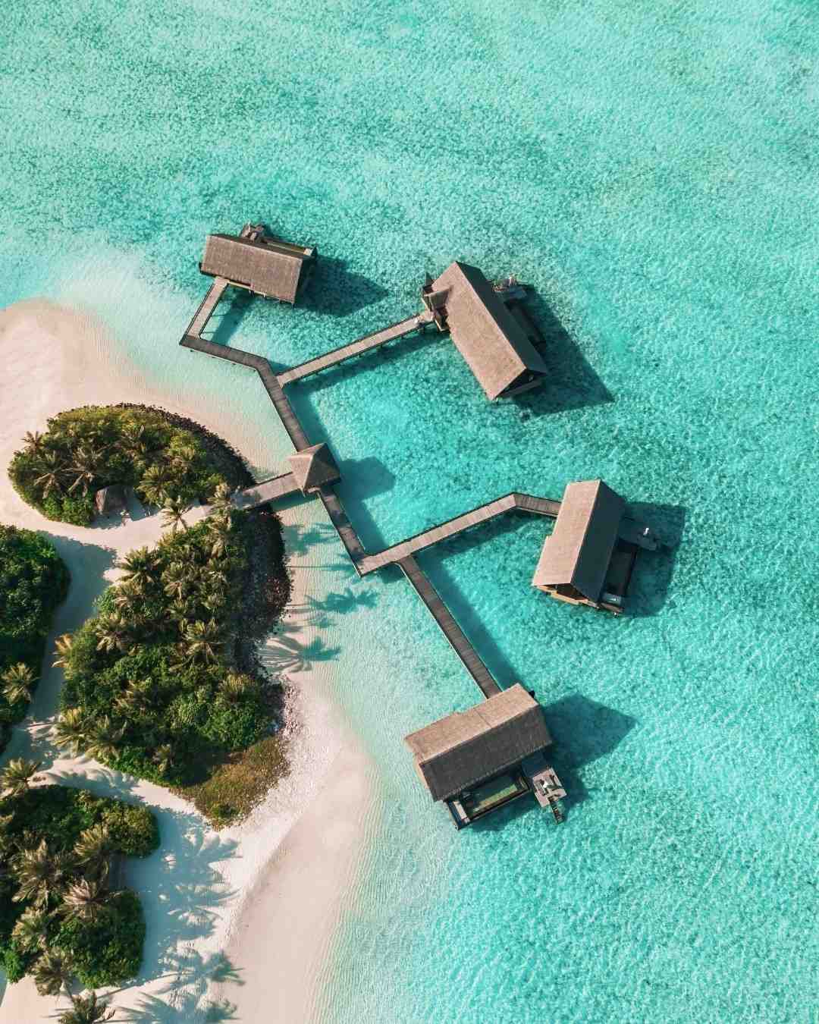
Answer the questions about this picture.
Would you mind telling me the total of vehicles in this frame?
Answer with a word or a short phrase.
0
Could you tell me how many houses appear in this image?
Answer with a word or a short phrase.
4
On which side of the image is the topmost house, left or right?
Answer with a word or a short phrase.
left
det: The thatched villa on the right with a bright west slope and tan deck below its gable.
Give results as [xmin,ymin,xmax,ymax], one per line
[532,479,667,616]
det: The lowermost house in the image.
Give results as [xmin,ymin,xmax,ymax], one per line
[405,685,568,832]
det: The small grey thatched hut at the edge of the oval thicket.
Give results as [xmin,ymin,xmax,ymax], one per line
[96,485,124,518]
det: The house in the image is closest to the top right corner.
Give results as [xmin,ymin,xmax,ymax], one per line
[417,261,559,407]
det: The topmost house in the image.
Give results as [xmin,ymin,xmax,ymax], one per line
[203,220,321,313]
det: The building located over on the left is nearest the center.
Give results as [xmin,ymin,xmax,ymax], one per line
[289,443,340,502]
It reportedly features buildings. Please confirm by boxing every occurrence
[532,479,667,616]
[289,443,340,502]
[203,220,321,313]
[96,485,124,518]
[405,685,568,832]
[417,261,559,407]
